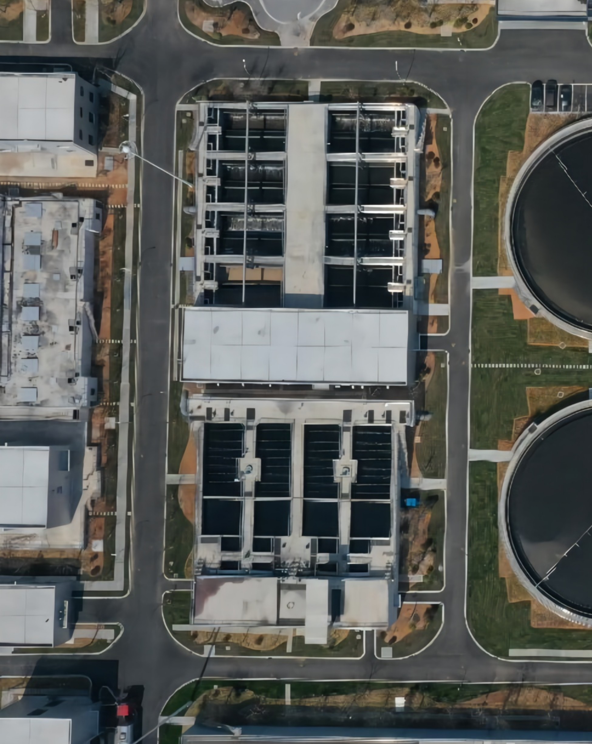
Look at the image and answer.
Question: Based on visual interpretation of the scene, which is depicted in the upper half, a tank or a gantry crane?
tank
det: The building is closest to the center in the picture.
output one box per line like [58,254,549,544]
[179,306,418,385]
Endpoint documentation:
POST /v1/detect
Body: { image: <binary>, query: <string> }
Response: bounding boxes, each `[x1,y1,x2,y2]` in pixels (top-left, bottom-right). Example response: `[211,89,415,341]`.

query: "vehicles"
[532,82,544,110]
[559,83,572,113]
[545,81,558,110]
[116,700,140,744]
